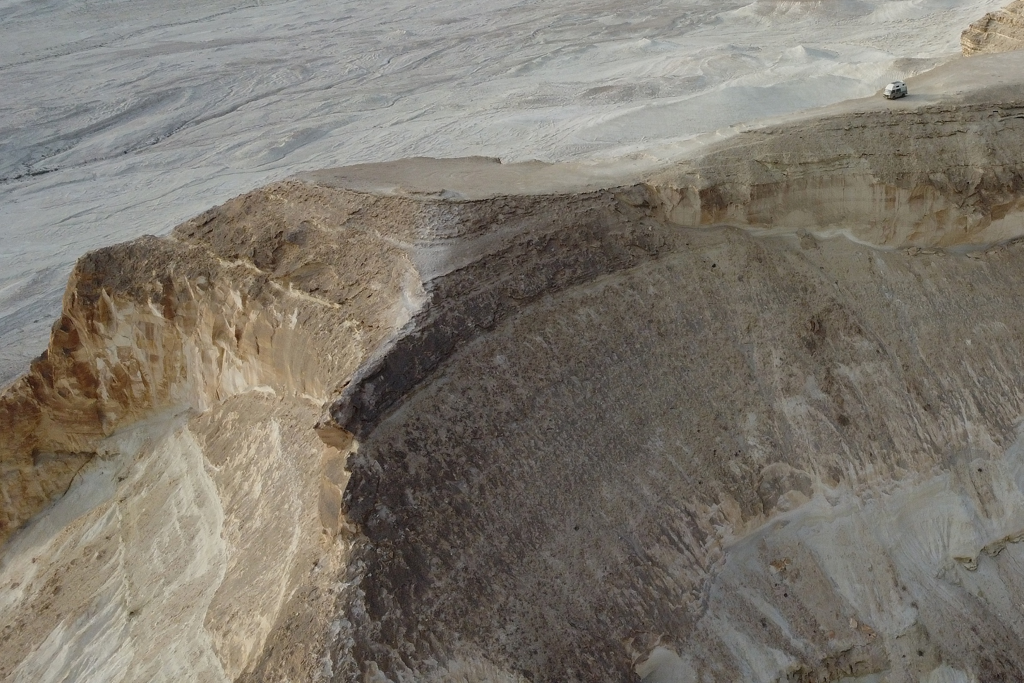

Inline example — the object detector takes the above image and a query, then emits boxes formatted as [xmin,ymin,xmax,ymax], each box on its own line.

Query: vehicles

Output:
[886,81,913,102]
